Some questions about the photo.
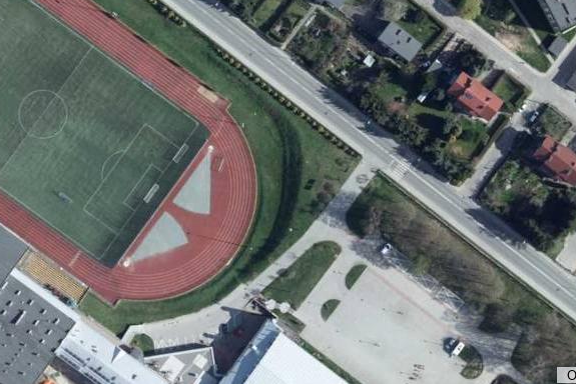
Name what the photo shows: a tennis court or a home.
home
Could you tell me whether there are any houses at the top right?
Yes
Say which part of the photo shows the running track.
left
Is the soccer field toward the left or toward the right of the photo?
left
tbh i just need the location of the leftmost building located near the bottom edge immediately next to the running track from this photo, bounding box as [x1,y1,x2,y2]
[0,278,75,384]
